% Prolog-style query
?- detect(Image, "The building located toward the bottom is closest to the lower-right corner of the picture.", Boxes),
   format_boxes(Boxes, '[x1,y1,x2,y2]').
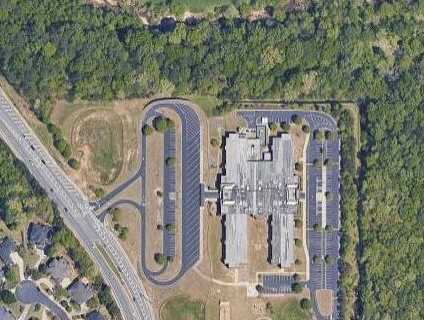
[221,124,299,268]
